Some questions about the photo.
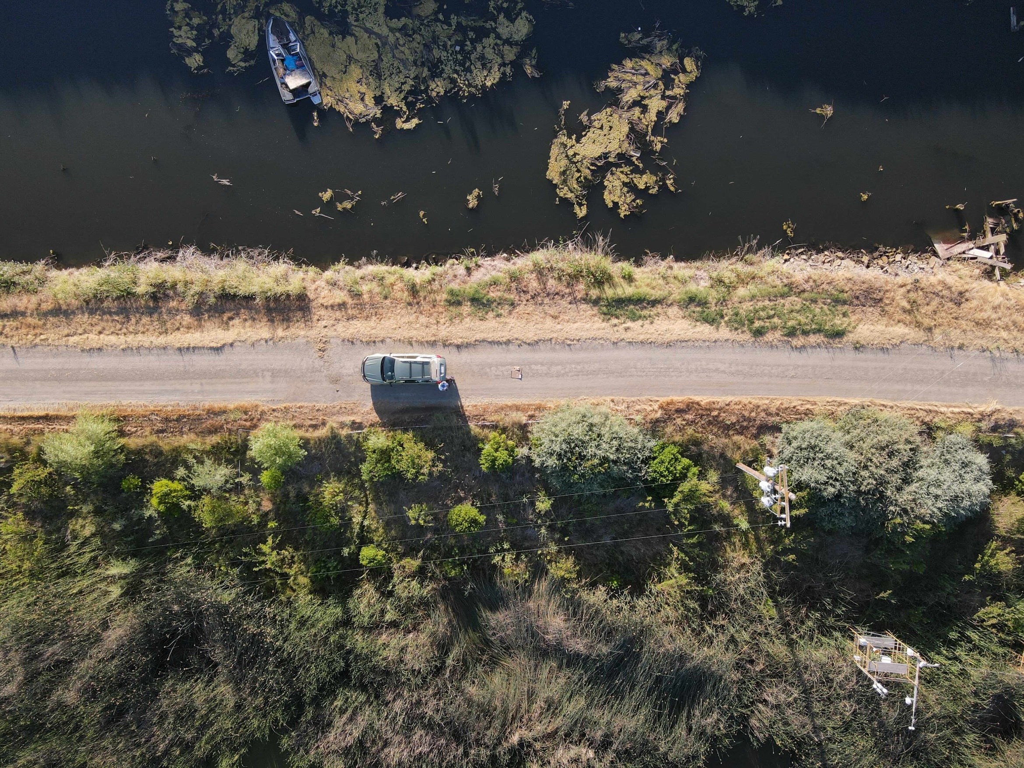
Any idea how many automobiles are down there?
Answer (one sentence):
Only 1 automobile is visible.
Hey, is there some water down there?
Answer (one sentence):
Yes, some water is visible.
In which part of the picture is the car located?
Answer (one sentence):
The car sits in the center section of the image.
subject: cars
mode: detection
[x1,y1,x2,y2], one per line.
[360,350,447,388]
